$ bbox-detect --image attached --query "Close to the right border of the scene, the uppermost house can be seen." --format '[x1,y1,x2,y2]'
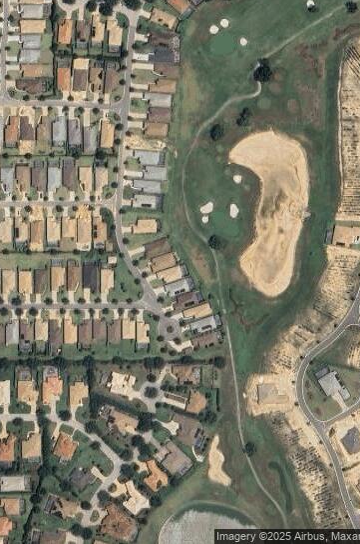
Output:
[335,226,360,245]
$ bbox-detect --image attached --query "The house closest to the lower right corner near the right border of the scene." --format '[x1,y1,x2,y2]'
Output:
[322,370,344,400]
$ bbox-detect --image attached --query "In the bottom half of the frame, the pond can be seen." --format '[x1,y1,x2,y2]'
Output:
[158,508,263,544]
